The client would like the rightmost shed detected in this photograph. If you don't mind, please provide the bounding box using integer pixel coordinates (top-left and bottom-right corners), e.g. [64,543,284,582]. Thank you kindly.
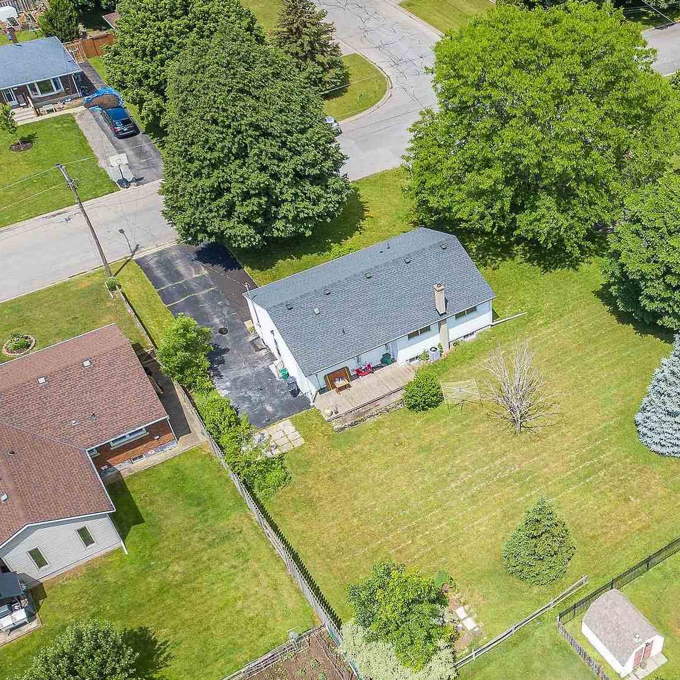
[580,583,671,680]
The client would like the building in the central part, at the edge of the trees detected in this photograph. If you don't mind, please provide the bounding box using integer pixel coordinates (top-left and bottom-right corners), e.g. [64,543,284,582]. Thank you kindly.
[237,227,524,404]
